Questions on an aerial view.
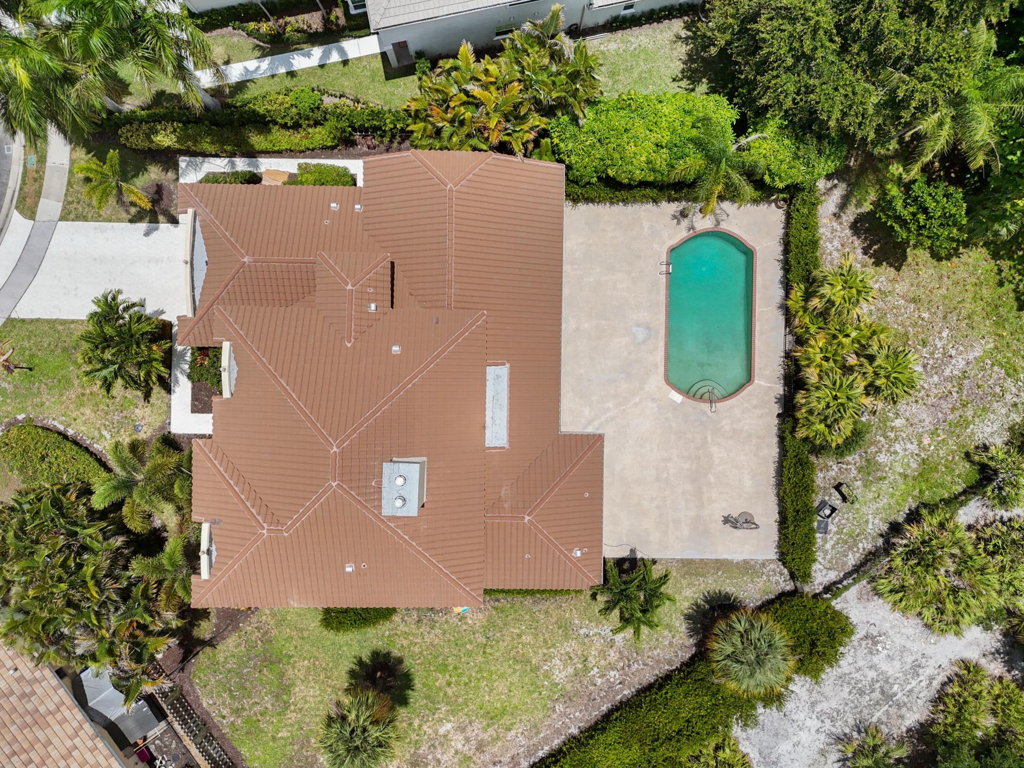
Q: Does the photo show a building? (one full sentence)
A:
Yes, the picture does show a building.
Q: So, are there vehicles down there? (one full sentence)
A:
No, the frame has no vehicle in it.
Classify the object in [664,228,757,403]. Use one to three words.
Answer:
swimming pool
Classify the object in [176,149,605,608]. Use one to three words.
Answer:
house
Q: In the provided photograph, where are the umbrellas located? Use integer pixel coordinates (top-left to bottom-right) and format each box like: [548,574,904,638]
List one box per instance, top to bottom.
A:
[722,513,759,529]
